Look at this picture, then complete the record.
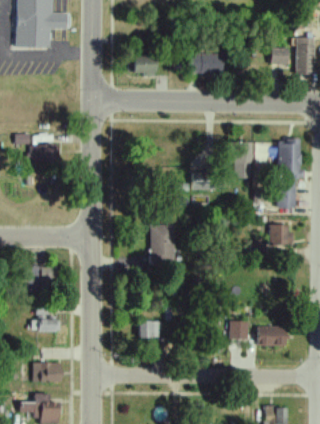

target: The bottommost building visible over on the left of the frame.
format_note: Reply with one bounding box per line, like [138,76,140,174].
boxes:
[20,393,62,424]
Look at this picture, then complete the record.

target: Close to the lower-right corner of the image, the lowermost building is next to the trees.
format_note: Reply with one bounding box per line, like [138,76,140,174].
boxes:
[264,405,288,424]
